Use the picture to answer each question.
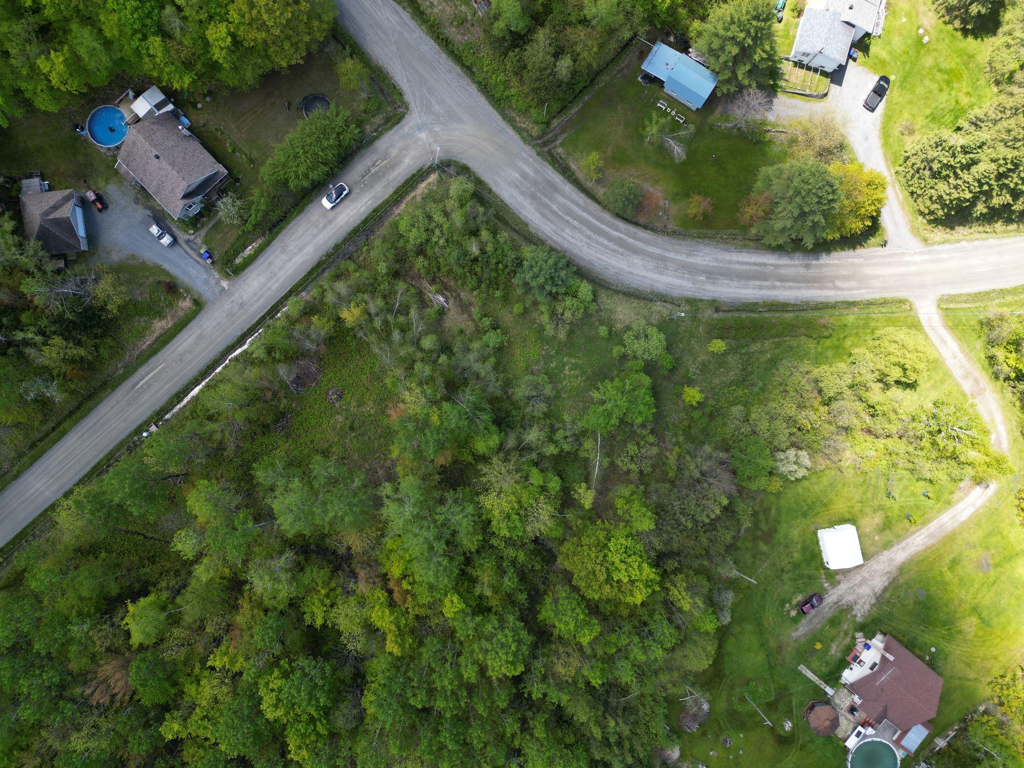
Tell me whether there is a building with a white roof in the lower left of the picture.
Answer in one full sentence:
No, looking in the lower left of the picture, there is no building with a white roof.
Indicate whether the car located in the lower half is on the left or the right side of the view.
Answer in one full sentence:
The car located in the lower half sits on the right side.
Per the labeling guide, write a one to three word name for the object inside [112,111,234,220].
house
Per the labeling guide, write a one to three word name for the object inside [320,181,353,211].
car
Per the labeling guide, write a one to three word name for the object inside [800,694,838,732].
gazebo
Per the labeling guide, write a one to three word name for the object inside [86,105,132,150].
swimming pool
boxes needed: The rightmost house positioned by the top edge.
[785,0,881,72]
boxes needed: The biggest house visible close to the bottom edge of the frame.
[839,630,943,731]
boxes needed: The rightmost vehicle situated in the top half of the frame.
[860,73,891,116]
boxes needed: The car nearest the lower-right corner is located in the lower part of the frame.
[796,591,824,613]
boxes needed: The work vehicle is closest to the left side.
[82,189,107,211]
